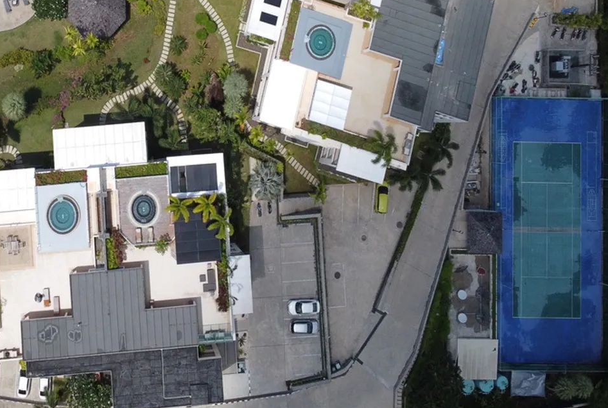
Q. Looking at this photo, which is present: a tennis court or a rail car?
tennis court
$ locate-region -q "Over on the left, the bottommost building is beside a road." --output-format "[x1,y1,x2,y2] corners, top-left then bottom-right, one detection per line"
[0,122,253,408]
